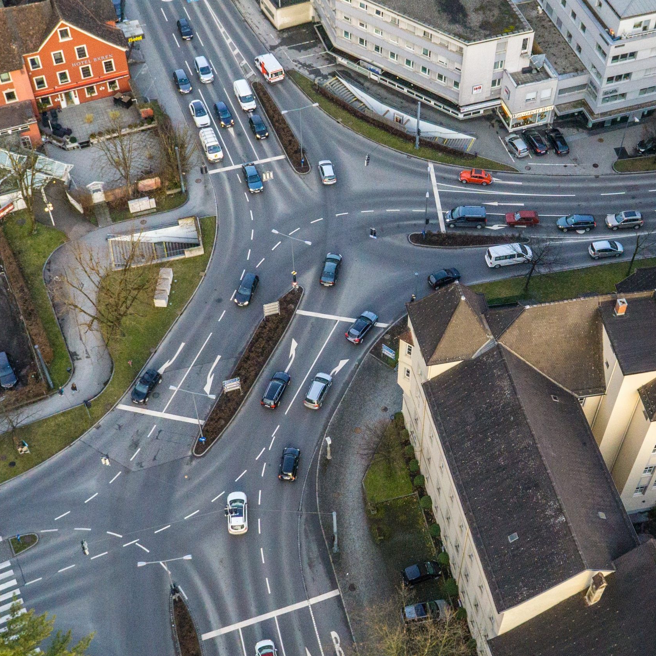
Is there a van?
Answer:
Yes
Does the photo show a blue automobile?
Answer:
Yes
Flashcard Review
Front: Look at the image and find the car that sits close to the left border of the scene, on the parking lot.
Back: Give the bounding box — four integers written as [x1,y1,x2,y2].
[0,351,16,387]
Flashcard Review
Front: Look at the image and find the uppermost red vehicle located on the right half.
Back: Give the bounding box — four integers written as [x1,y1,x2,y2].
[458,170,494,187]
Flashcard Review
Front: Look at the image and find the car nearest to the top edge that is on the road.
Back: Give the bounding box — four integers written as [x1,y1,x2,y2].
[176,16,193,39]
